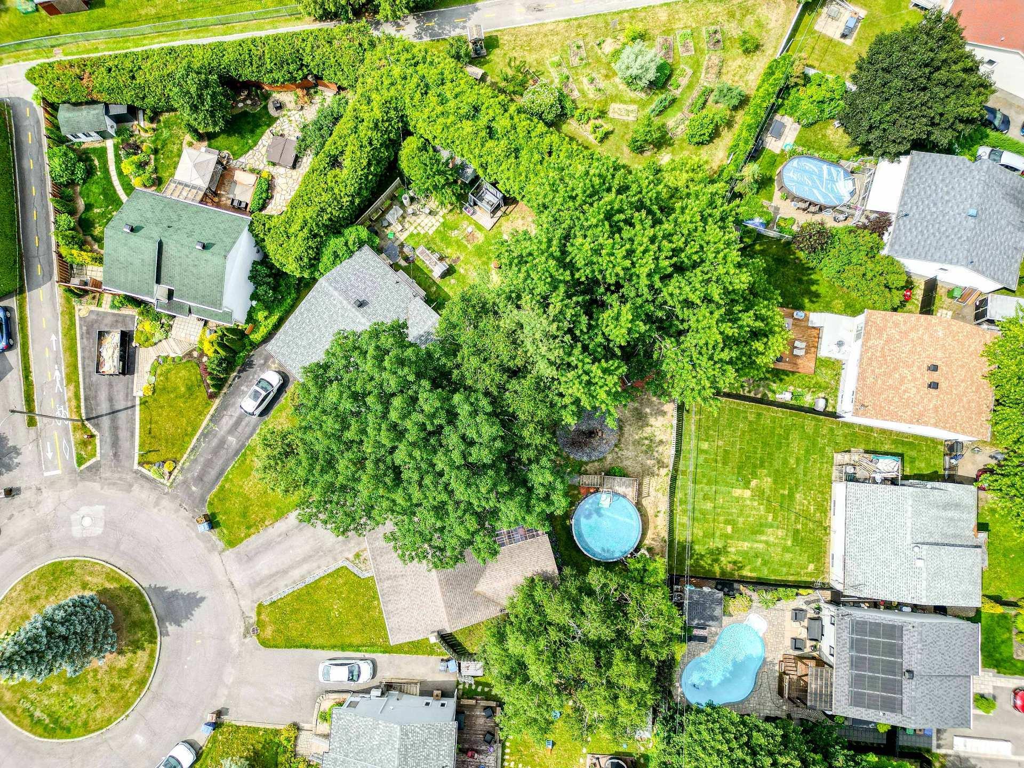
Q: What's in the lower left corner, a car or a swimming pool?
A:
car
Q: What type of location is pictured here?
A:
residential area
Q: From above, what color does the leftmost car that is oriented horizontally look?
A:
white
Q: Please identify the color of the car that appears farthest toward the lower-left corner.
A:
white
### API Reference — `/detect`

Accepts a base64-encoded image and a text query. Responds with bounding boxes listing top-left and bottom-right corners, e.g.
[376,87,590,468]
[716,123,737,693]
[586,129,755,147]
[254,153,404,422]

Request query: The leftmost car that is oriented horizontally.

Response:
[315,658,375,687]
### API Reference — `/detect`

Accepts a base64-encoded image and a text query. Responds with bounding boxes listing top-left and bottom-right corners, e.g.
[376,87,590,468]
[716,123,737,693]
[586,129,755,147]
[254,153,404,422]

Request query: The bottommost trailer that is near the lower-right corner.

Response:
[947,731,1019,759]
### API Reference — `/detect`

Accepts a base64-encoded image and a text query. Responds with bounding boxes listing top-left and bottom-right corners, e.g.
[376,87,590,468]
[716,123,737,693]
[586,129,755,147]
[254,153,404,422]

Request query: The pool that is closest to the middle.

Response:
[570,489,642,562]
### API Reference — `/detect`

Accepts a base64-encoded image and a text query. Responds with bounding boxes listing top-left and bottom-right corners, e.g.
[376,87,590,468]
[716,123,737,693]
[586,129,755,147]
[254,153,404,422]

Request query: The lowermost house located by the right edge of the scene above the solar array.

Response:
[829,479,988,607]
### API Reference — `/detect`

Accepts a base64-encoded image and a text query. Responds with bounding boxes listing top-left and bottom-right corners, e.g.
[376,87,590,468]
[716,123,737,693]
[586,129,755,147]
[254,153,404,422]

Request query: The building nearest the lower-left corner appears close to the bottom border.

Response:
[322,686,459,768]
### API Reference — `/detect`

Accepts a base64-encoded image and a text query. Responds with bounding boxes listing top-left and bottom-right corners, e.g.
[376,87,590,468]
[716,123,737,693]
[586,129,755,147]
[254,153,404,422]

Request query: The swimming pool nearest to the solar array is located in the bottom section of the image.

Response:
[680,613,768,706]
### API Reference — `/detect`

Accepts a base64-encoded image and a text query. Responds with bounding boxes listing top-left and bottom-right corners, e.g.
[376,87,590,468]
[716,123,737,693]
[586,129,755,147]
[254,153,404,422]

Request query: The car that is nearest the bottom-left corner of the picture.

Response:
[157,736,199,768]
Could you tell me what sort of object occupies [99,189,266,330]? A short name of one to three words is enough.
house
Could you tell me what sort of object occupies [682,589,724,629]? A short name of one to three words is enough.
shed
